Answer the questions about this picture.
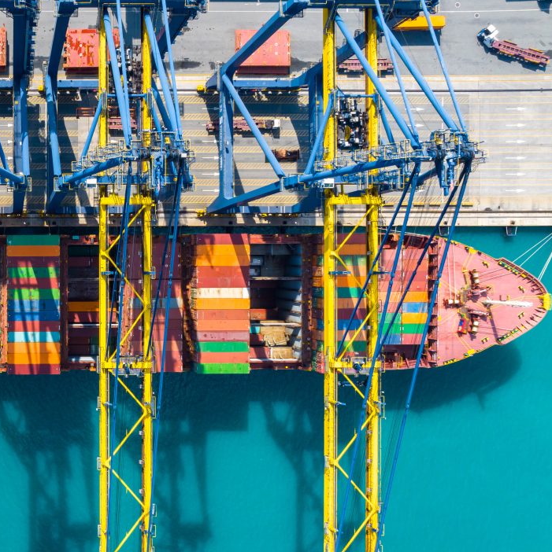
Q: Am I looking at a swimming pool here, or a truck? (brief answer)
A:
truck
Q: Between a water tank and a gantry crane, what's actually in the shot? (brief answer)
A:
gantry crane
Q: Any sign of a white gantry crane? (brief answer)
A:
No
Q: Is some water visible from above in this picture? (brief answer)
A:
Yes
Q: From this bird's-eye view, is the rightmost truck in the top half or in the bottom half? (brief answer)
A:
top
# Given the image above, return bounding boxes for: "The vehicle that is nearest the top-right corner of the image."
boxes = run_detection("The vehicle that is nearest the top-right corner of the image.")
[481,26,550,65]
